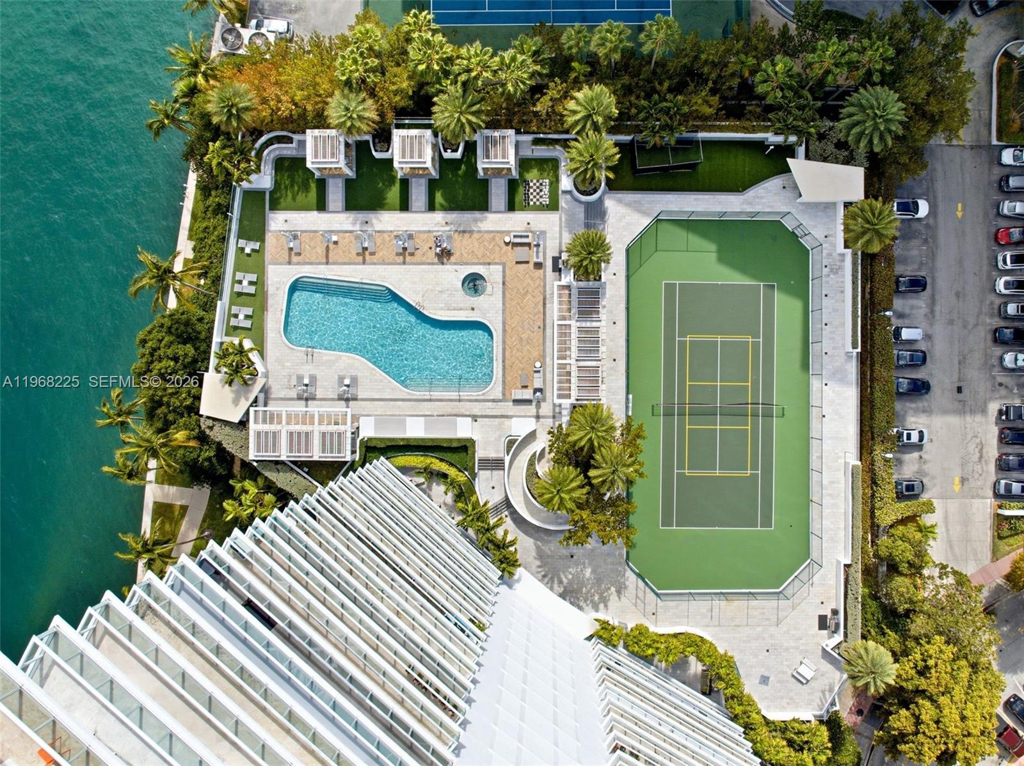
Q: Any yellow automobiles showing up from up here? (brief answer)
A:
No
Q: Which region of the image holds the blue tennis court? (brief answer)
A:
top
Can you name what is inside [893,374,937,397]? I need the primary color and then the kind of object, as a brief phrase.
black car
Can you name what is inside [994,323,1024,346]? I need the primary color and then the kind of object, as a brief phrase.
black car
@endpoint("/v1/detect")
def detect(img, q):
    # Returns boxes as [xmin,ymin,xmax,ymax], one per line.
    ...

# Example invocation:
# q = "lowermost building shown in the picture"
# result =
[0,457,762,766]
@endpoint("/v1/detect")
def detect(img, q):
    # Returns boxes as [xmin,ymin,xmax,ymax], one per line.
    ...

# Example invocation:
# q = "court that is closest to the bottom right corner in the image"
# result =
[628,220,810,589]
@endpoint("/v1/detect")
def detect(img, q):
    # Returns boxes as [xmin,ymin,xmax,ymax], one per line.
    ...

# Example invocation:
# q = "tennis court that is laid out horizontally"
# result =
[364,0,748,60]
